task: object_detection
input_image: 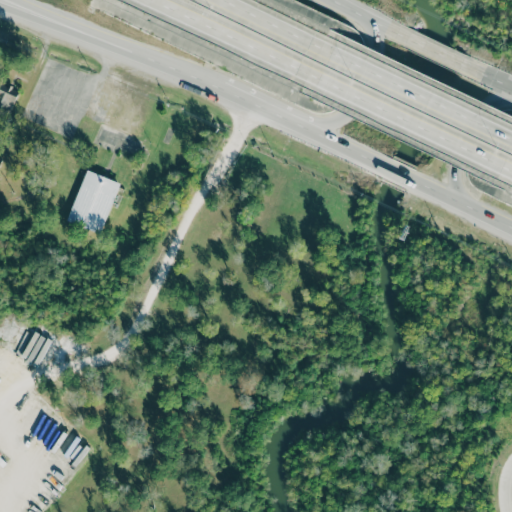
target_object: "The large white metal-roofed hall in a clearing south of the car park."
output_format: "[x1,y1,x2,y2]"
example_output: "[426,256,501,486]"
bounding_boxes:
[68,172,120,235]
